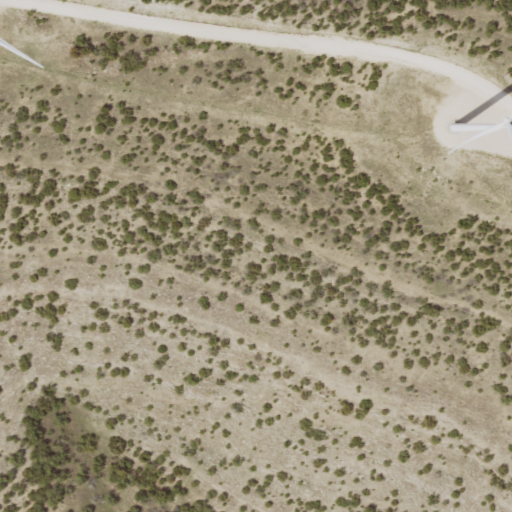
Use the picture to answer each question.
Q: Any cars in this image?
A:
No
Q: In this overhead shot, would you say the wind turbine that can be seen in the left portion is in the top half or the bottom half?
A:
top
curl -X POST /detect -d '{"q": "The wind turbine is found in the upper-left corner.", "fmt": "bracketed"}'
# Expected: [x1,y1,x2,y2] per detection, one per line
[0,36,43,68]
